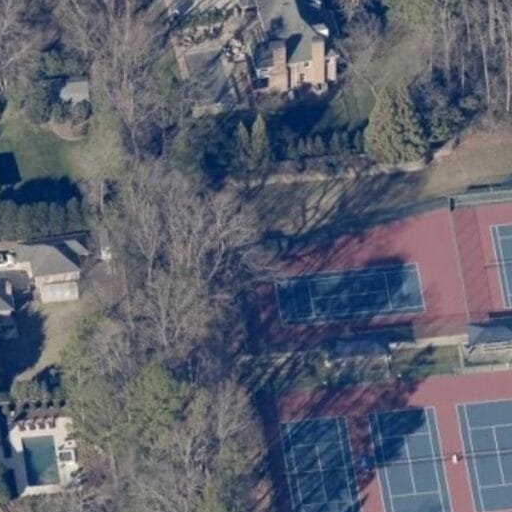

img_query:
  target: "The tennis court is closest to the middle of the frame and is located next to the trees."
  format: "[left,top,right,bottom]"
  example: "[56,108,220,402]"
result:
[275,263,425,328]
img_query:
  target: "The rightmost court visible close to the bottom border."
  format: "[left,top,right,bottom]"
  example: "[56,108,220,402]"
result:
[456,399,512,512]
